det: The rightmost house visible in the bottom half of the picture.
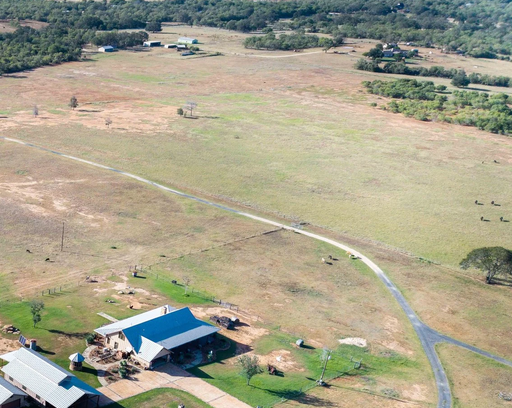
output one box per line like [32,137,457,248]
[94,304,219,369]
